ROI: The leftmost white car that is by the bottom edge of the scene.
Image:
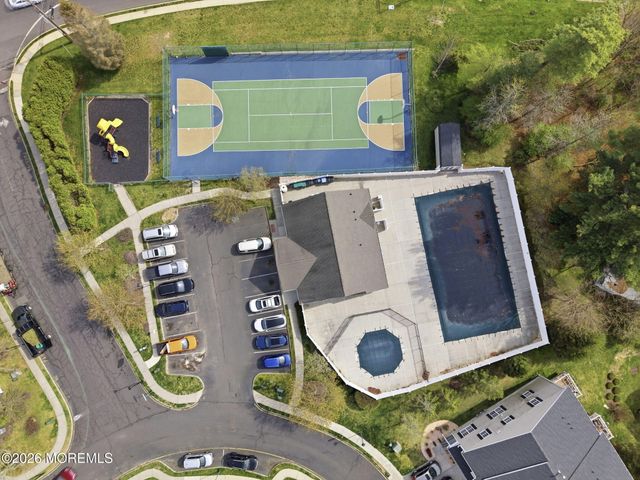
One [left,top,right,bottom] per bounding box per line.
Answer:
[184,452,214,469]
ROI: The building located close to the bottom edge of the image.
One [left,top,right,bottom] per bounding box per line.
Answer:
[439,366,636,480]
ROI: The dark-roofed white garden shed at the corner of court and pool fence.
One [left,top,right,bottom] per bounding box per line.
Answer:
[436,124,461,170]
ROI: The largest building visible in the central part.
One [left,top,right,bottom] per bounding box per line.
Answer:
[274,189,389,304]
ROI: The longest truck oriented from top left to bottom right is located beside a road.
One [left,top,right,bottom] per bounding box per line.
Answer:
[11,306,54,359]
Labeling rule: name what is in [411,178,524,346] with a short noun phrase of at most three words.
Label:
swimming pool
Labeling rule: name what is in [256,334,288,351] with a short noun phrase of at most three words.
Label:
car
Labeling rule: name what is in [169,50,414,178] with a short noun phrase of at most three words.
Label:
sports court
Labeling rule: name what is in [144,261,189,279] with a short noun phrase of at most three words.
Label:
vehicle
